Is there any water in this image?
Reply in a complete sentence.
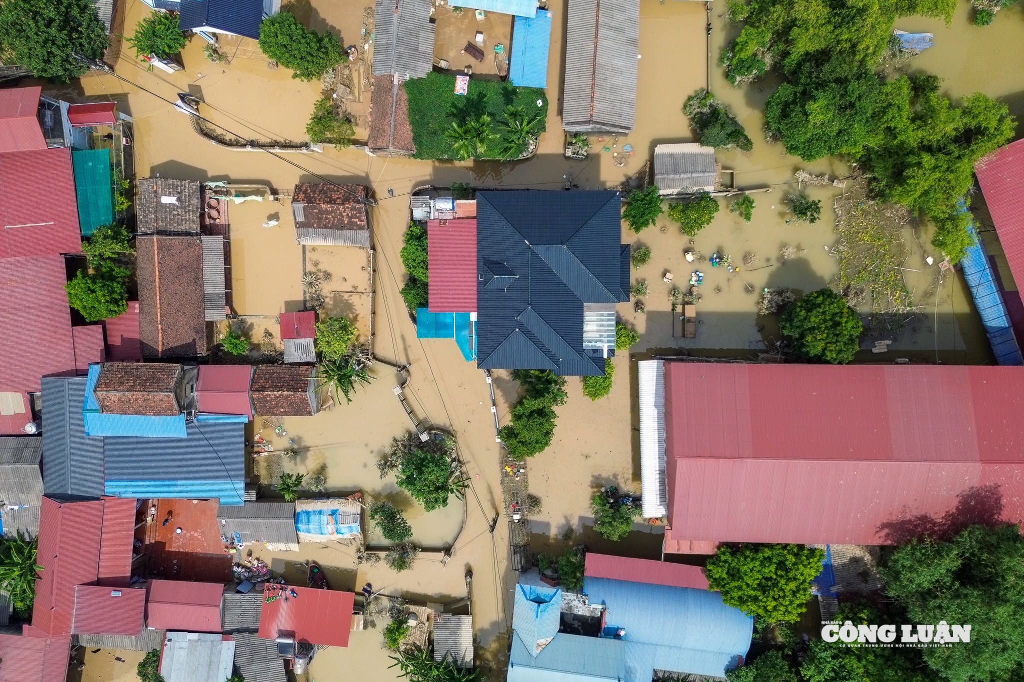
Yes, the picture does contain water.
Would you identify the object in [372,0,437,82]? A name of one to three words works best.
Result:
house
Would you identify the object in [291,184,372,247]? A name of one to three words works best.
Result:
house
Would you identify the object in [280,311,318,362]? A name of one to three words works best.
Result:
shed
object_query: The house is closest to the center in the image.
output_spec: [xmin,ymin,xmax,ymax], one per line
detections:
[411,190,631,377]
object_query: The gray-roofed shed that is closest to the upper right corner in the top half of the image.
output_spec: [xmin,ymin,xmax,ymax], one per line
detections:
[654,143,721,197]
